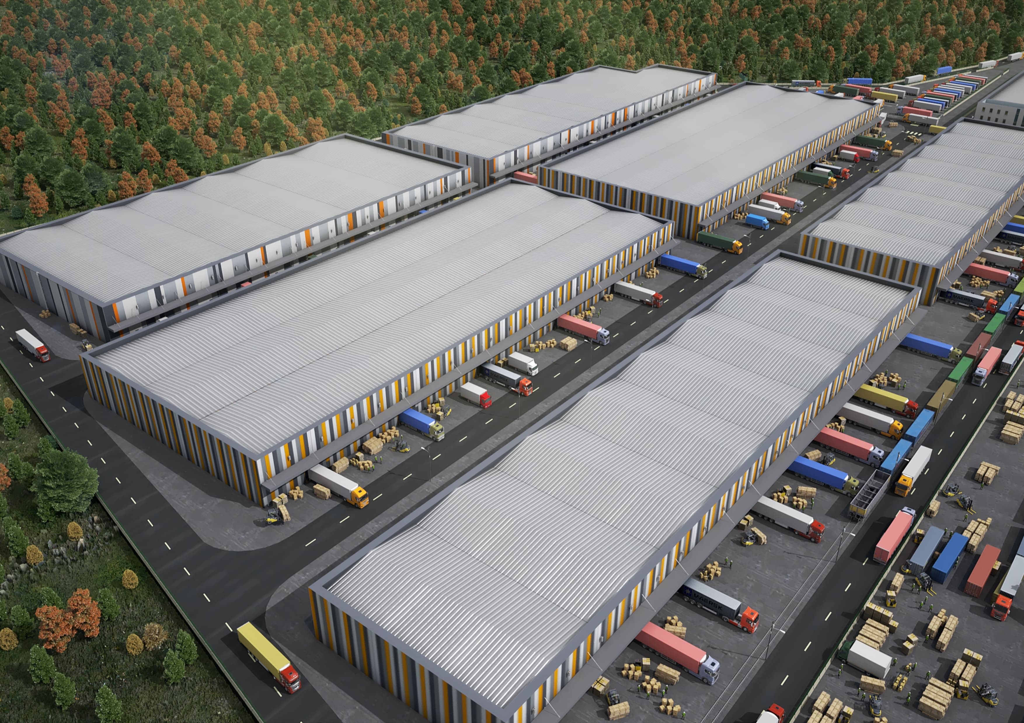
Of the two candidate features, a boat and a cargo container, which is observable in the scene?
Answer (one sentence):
The image shows a cargo container.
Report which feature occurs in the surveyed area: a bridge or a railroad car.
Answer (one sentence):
There is a railroad car in the scene.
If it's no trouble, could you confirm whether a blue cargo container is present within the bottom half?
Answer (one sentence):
Yes, I can see a blue cargo container within the bottom half.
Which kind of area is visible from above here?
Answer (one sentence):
The area seen from above is an industrial area.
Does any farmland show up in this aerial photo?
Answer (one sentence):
No, farmland can't be seen anywhere here.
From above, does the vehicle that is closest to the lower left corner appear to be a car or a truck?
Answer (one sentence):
The vehicle that is closest to the lower left corner in the image is a truck.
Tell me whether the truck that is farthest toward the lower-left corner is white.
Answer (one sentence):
No, from above the truck that is farthest toward the lower-left corner looks yellow.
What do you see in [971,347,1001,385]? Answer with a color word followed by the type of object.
pink truck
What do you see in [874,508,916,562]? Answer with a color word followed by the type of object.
pink truck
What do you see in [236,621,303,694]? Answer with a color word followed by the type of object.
yellow truck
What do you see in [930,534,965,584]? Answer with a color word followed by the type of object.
blue shipping container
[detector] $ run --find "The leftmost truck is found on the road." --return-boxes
[15,328,52,362]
